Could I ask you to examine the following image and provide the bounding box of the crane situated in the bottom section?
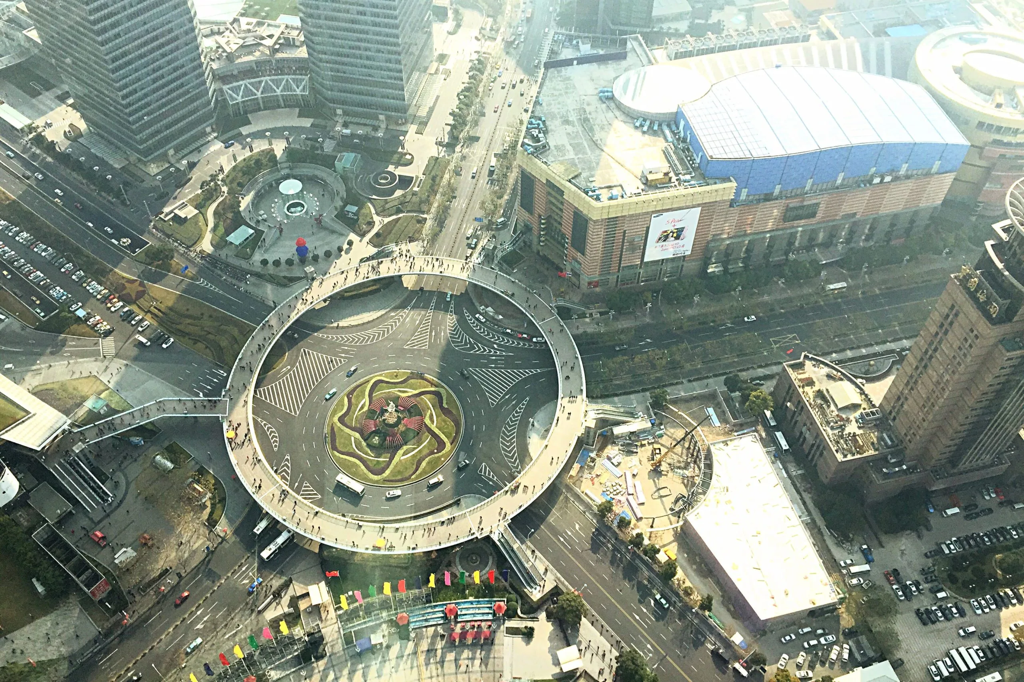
[644,414,713,470]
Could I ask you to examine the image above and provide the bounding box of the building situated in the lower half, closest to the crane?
[608,417,656,442]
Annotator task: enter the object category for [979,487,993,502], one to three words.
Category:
car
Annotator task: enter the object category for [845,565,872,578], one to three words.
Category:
vehicle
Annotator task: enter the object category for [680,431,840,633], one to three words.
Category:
shed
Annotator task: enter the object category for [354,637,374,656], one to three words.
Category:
tent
